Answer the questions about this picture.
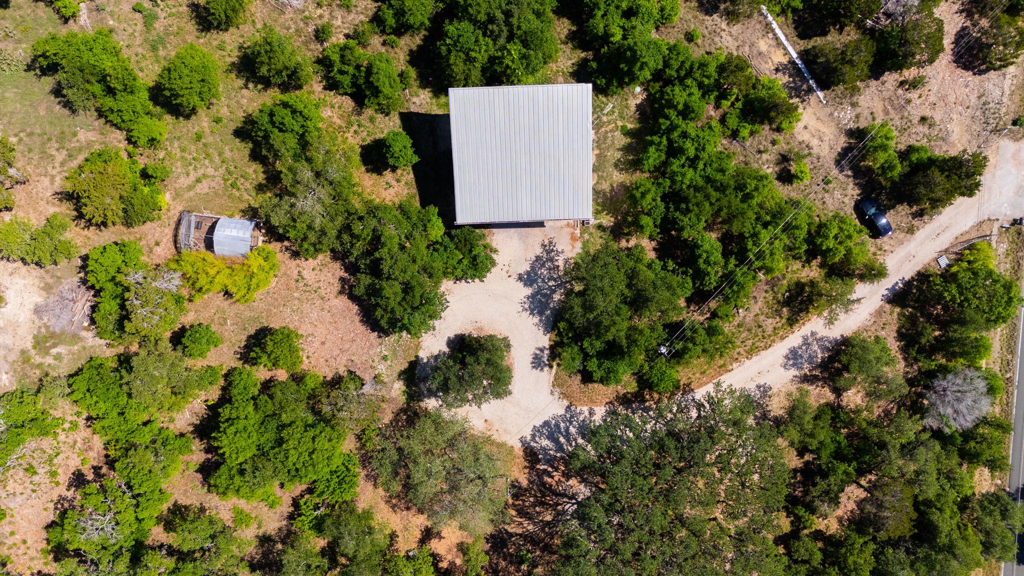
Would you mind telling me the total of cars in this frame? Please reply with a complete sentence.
Just 1 car appears in this view.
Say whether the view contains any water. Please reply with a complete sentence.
No, no water is visible.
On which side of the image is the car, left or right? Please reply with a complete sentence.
The car sits on the right side.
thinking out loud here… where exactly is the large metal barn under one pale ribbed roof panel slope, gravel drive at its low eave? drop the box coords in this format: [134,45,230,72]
[448,82,595,226]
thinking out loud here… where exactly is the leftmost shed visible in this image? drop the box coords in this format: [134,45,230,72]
[181,214,269,259]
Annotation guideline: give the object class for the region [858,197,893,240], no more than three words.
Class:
car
